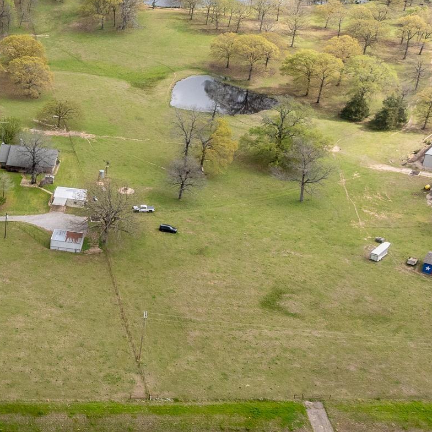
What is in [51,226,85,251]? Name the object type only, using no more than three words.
shed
